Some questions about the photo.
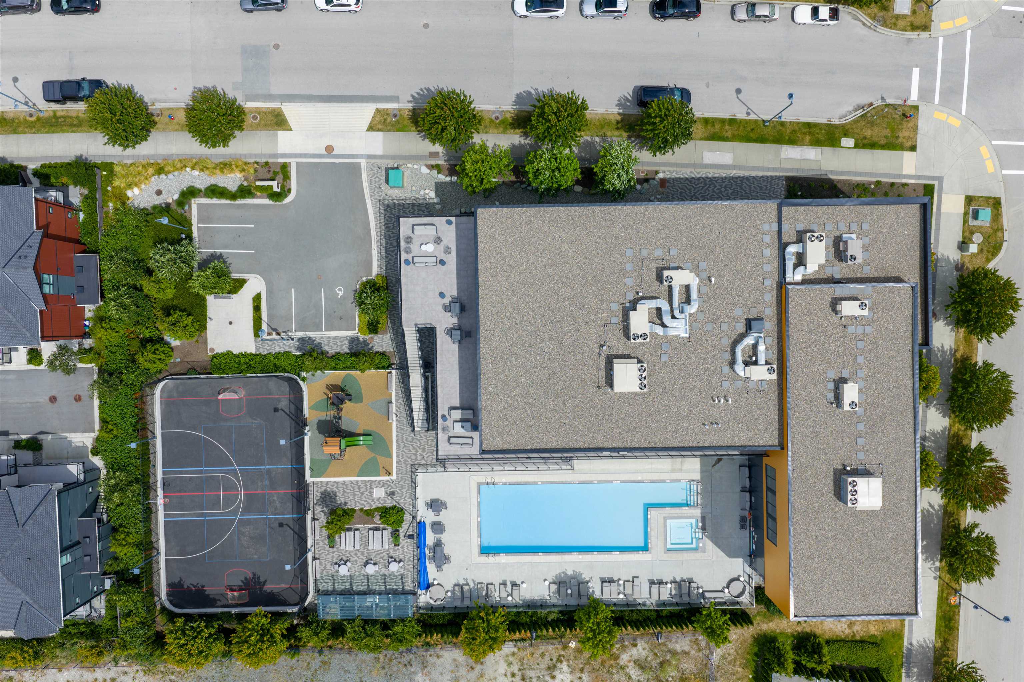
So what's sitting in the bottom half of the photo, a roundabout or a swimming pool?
swimming pool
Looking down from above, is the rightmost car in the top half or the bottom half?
top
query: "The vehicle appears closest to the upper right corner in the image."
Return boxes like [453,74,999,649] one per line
[792,3,839,29]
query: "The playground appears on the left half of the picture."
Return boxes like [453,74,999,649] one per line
[306,370,395,482]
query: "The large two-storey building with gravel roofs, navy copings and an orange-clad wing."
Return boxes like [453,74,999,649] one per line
[397,197,933,621]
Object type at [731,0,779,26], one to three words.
car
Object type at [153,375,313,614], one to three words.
sports court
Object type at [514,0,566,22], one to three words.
car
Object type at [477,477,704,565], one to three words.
swimming pool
